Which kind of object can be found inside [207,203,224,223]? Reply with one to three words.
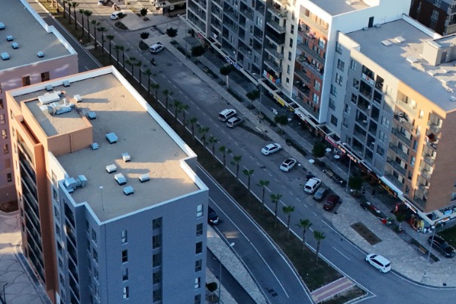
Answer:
car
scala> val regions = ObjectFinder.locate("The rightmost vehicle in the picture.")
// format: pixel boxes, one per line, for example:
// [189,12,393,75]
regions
[429,234,456,253]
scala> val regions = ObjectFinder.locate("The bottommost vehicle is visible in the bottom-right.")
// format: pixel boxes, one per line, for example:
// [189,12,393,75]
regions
[363,250,394,269]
